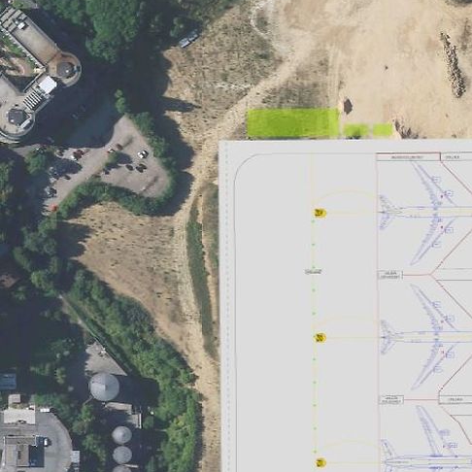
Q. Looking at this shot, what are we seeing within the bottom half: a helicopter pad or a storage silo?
storage silo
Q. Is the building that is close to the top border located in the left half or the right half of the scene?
left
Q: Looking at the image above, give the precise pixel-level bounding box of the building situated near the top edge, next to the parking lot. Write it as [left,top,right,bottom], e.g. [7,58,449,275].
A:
[0,5,85,142]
